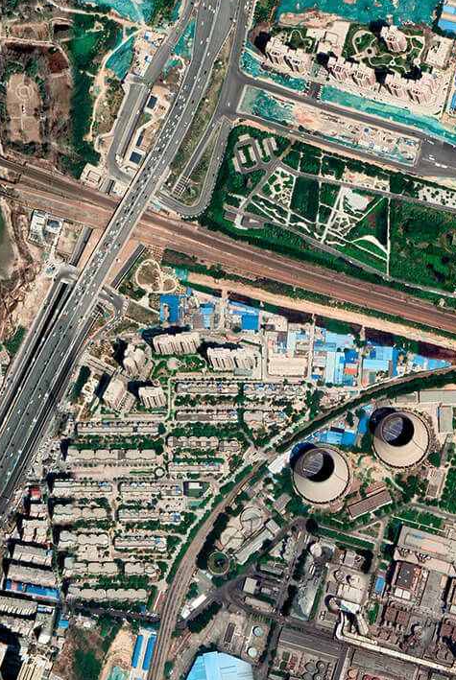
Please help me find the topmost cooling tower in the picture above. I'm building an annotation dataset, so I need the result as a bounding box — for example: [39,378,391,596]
[370,409,430,468]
